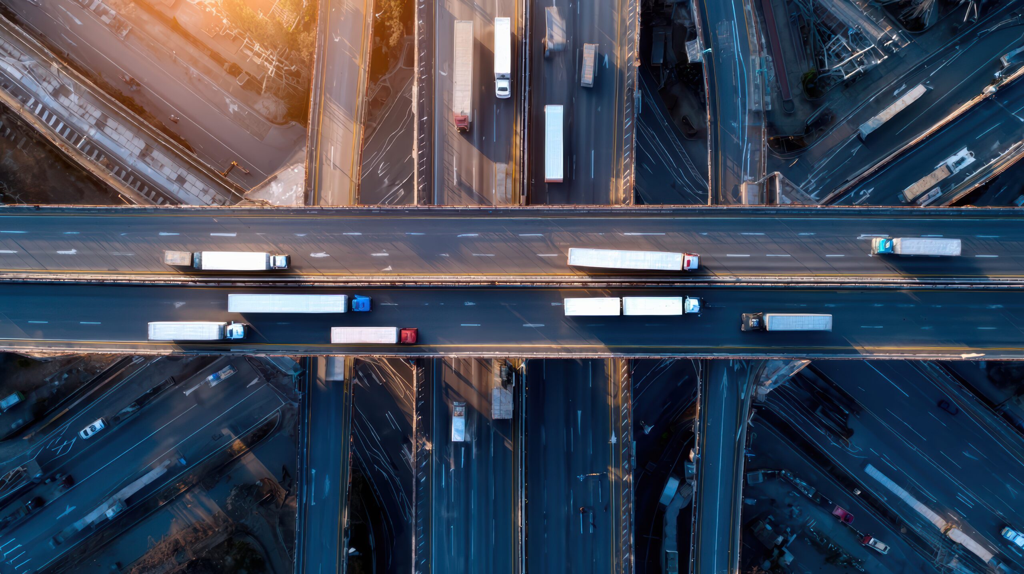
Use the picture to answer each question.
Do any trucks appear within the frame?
Yes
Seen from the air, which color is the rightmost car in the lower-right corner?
blue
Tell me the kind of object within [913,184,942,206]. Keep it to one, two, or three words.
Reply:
vehicle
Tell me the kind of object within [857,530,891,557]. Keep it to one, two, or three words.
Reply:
truck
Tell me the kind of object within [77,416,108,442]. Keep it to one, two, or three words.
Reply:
car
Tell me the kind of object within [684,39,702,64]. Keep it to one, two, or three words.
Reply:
building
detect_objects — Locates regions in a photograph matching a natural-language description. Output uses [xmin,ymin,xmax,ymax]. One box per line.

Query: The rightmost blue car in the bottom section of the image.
[999,525,1024,549]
